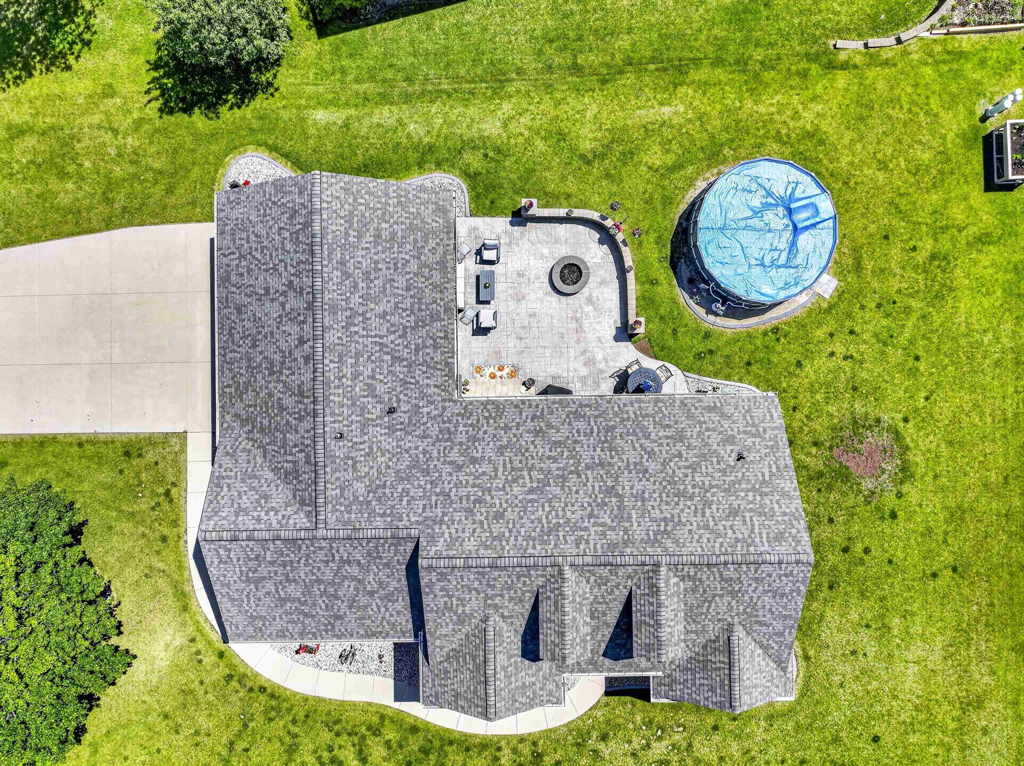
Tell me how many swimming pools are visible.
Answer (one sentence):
The photo contains exactly 1 swimming pool.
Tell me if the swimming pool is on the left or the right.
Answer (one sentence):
You can find the swimming pool on the right side of the picture.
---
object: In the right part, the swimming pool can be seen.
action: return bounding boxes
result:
[684,156,838,311]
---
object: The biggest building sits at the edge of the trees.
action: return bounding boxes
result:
[197,170,814,723]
